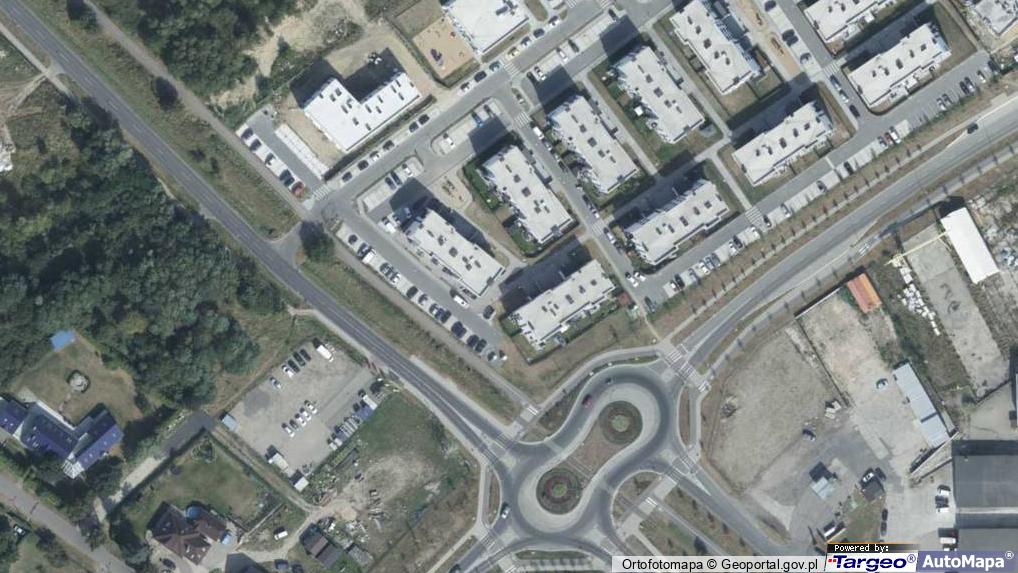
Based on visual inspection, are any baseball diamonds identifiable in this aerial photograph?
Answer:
No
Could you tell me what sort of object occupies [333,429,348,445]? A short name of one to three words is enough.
vehicle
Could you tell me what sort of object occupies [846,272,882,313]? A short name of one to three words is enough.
shed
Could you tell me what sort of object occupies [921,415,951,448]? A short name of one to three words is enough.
building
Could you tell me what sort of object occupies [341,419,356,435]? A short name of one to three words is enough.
vehicle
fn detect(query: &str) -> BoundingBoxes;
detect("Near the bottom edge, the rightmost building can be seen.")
[953,440,1018,573]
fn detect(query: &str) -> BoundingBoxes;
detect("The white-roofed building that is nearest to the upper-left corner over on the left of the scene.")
[302,70,420,151]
